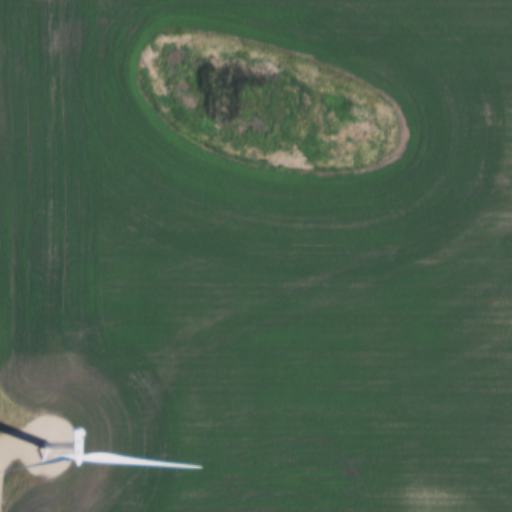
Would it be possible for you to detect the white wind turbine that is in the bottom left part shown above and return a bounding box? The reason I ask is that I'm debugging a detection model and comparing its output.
[0,427,202,474]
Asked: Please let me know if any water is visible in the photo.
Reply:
No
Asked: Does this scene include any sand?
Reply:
No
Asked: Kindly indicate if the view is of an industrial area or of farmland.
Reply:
farmland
